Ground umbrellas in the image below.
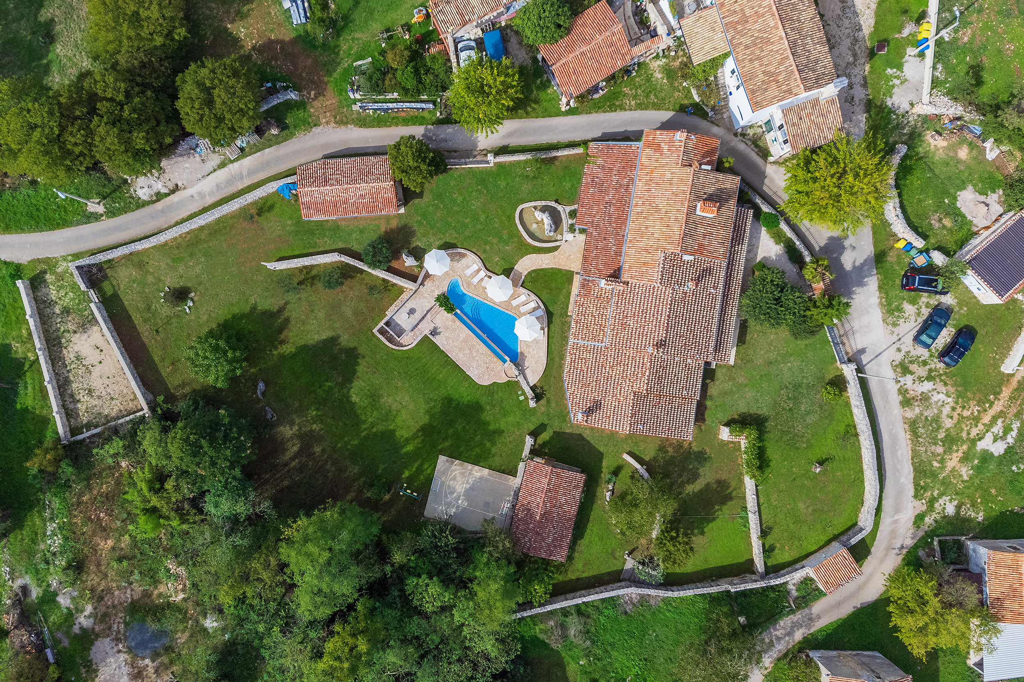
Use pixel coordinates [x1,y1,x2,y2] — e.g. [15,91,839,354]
[513,314,541,342]
[486,275,513,302]
[423,248,451,276]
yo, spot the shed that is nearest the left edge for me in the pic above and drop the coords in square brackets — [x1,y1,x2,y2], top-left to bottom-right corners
[295,154,399,221]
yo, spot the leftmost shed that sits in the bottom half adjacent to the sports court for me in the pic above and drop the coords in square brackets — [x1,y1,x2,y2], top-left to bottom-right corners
[510,453,588,563]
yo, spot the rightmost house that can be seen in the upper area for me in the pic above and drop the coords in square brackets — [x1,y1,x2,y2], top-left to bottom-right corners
[949,209,1024,304]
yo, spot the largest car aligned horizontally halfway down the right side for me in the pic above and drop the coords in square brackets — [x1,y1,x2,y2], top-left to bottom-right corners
[898,272,947,295]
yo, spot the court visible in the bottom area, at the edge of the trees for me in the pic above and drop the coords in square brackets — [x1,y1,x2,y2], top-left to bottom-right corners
[424,455,515,531]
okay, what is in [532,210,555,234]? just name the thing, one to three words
fountain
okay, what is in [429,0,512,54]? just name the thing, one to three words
house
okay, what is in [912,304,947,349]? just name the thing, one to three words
car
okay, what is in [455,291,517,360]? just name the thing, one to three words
swimming pool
